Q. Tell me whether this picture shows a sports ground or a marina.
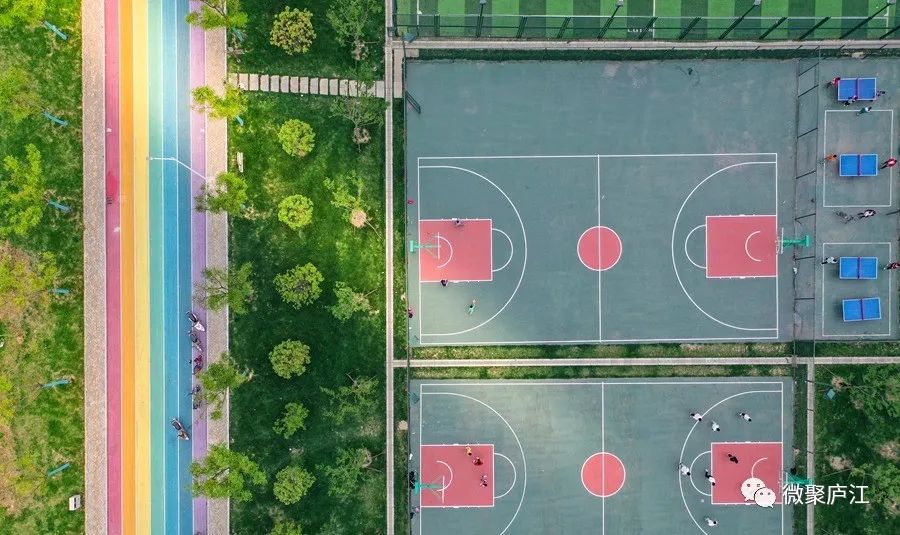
sports ground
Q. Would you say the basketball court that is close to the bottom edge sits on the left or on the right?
right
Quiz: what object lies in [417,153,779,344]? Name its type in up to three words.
basketball court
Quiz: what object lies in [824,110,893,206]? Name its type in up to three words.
tennis court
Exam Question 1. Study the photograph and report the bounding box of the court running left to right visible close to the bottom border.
[420,382,785,535]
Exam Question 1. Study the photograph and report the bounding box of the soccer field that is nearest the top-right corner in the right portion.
[398,0,900,39]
